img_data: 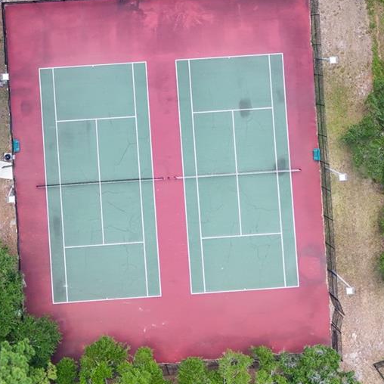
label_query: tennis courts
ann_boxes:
[39,61,161,304]
[176,53,299,294]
